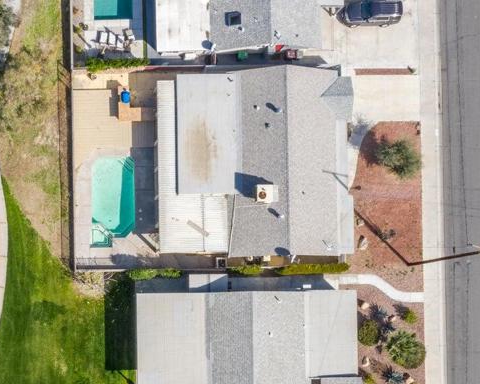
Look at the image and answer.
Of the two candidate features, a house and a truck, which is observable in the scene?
house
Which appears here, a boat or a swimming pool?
swimming pool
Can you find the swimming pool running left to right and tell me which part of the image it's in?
top left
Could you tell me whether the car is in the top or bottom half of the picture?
top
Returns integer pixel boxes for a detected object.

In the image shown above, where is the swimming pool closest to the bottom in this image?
[89,154,138,249]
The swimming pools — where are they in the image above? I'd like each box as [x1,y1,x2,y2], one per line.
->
[89,154,138,249]
[91,0,137,22]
